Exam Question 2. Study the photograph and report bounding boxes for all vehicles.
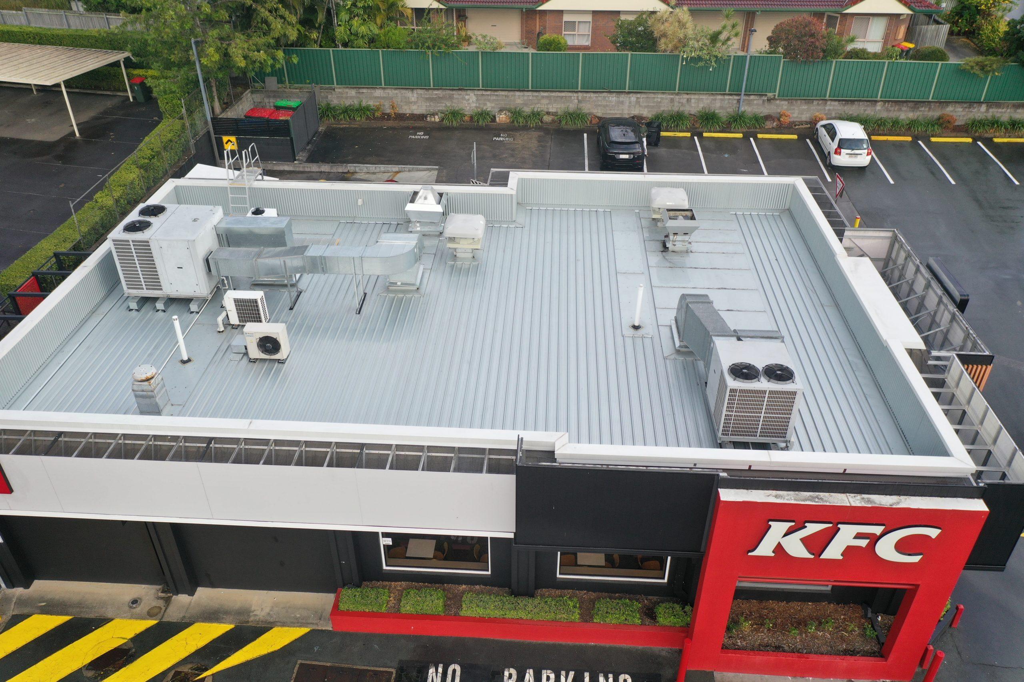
[598,116,668,169]
[817,122,875,170]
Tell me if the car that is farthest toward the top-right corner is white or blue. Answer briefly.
white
